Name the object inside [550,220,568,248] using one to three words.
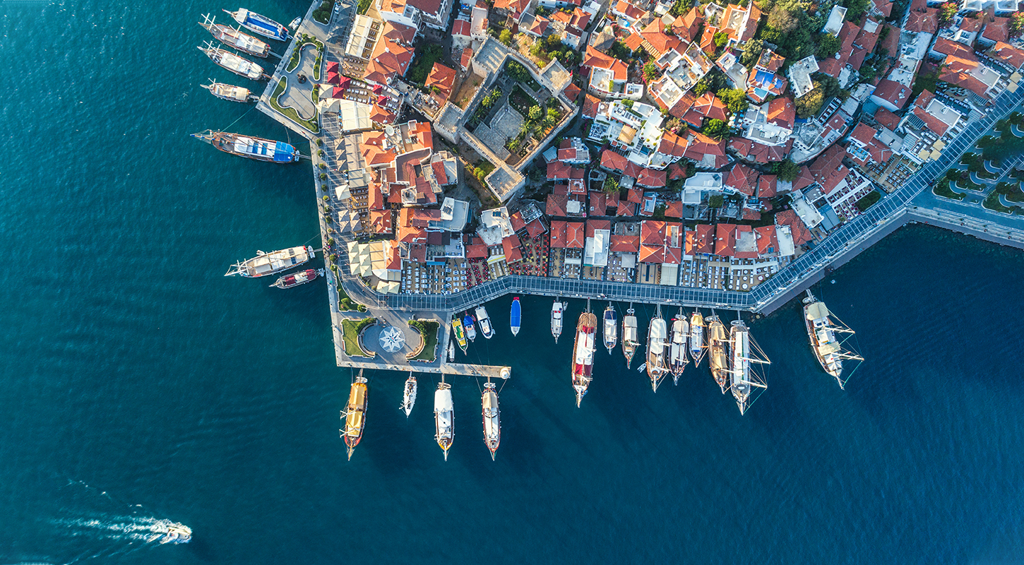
house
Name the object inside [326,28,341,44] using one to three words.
umbrella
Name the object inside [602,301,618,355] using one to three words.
boat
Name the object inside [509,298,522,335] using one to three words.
boat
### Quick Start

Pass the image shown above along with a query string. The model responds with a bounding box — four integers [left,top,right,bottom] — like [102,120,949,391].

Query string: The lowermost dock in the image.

[443,363,511,378]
